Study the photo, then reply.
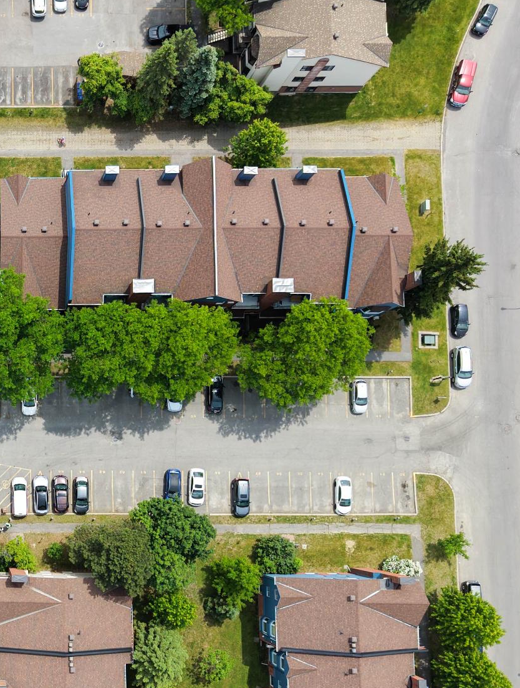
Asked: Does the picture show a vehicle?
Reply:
Yes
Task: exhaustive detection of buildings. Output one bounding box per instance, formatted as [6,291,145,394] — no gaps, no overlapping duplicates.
[0,155,423,326]
[0,561,134,688]
[206,0,393,102]
[257,561,431,688]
